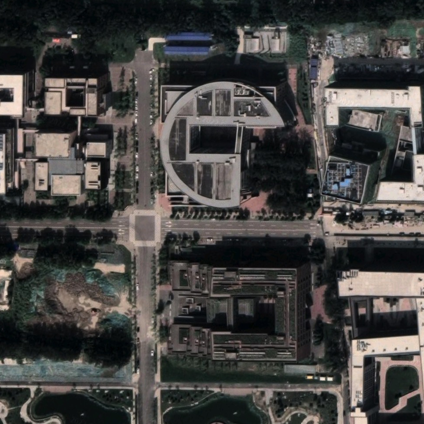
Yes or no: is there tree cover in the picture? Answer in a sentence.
Yes, some tree cover is visible.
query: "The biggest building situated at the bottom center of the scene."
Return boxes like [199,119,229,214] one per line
[168,256,311,361]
